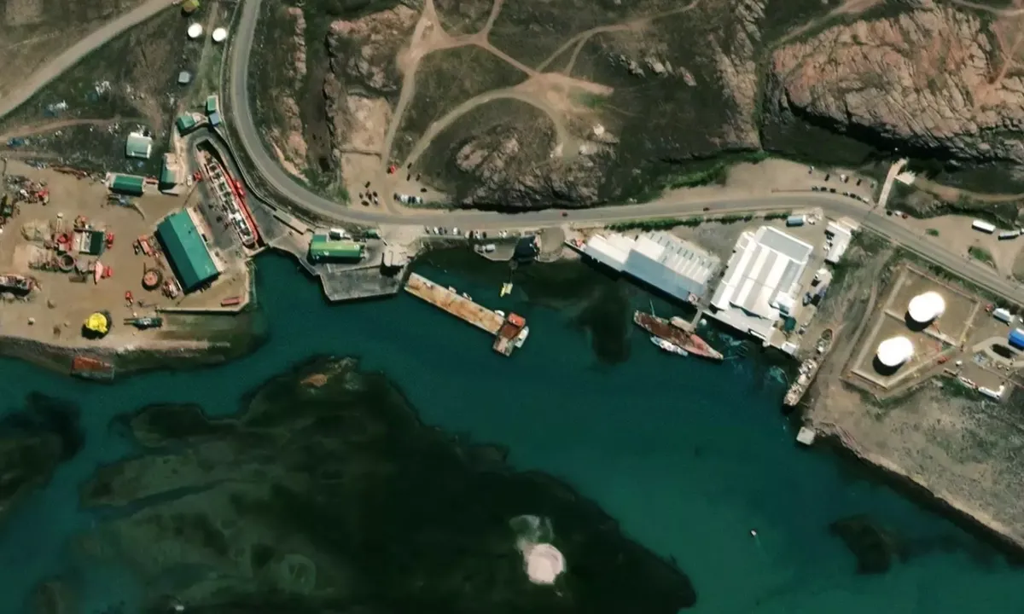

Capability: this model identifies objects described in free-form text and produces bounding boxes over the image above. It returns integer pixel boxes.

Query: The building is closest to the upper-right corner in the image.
[824,221,855,263]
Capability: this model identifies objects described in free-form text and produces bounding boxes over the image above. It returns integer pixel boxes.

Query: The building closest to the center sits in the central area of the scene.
[514,235,538,256]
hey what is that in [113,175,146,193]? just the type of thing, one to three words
building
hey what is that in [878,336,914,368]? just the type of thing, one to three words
storage tank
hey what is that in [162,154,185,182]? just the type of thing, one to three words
building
